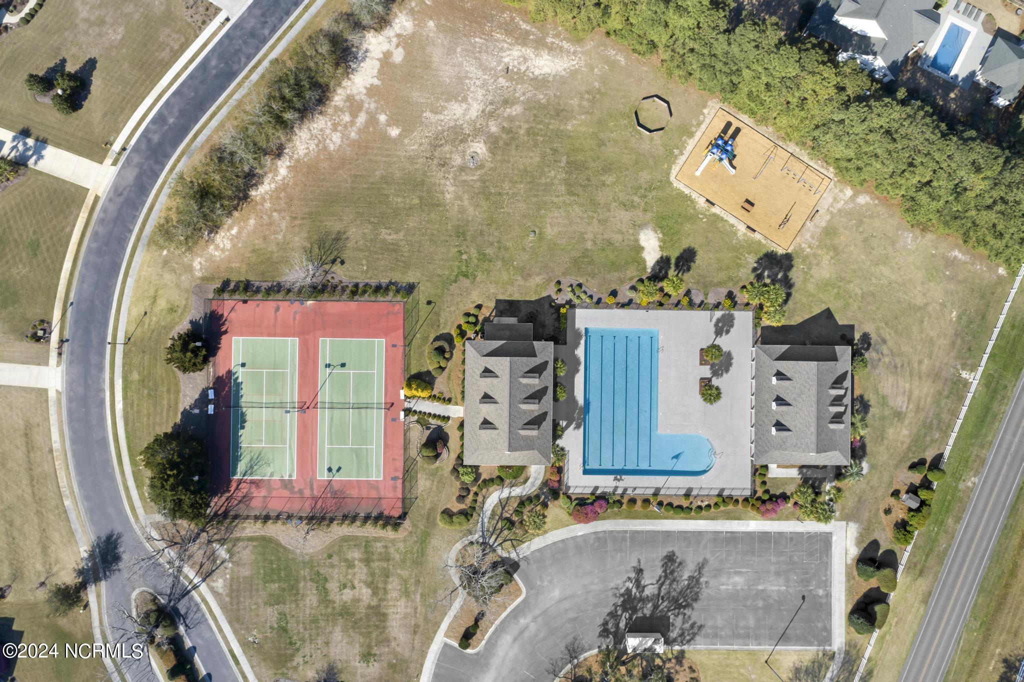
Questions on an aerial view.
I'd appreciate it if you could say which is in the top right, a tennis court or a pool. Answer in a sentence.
You can see a pool in the top right.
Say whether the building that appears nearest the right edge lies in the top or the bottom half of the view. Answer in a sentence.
You can find the building that appears nearest the right edge in the top half.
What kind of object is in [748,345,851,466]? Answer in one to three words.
building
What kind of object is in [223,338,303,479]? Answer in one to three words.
tennis court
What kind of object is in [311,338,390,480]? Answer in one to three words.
tennis court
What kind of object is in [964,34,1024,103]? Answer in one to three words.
building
